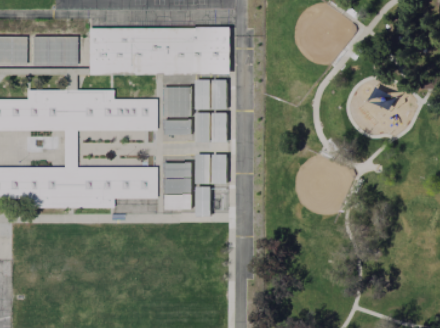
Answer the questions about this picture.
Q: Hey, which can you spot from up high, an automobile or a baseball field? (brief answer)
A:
baseball field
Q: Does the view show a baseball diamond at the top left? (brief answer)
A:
No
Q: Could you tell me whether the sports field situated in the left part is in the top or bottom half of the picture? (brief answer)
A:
bottom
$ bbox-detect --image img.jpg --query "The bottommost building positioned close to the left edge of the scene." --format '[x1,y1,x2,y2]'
[0,90,158,209]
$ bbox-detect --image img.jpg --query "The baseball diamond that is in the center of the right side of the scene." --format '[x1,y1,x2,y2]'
[295,154,358,216]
